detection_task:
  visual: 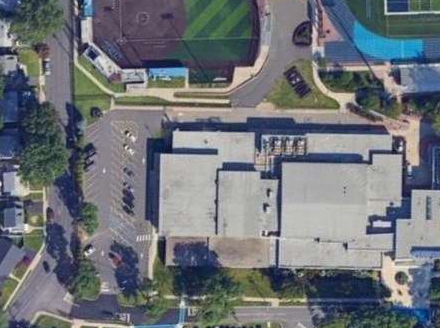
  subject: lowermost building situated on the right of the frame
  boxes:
[158,131,440,269]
